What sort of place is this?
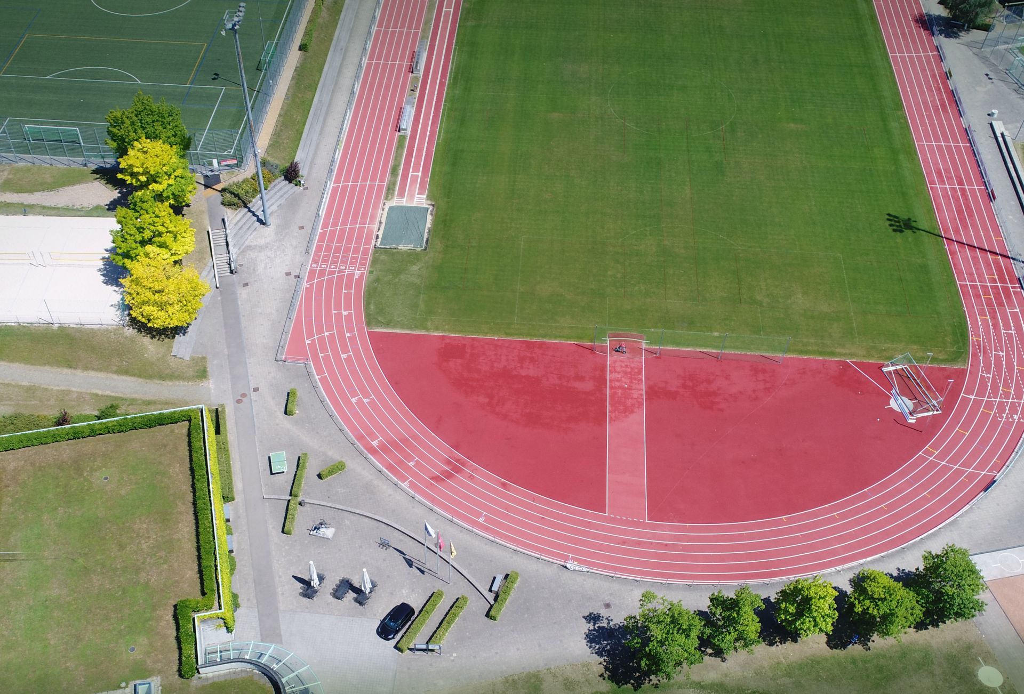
sports ground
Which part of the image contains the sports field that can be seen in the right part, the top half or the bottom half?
top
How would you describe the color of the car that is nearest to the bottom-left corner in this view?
black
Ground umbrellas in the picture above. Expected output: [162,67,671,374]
[307,561,319,591]
[360,569,373,599]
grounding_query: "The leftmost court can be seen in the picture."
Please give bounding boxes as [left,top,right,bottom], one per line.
[0,215,127,326]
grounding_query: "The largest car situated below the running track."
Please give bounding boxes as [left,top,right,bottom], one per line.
[377,600,416,642]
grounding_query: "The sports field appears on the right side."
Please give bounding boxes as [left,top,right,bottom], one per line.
[365,0,970,368]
